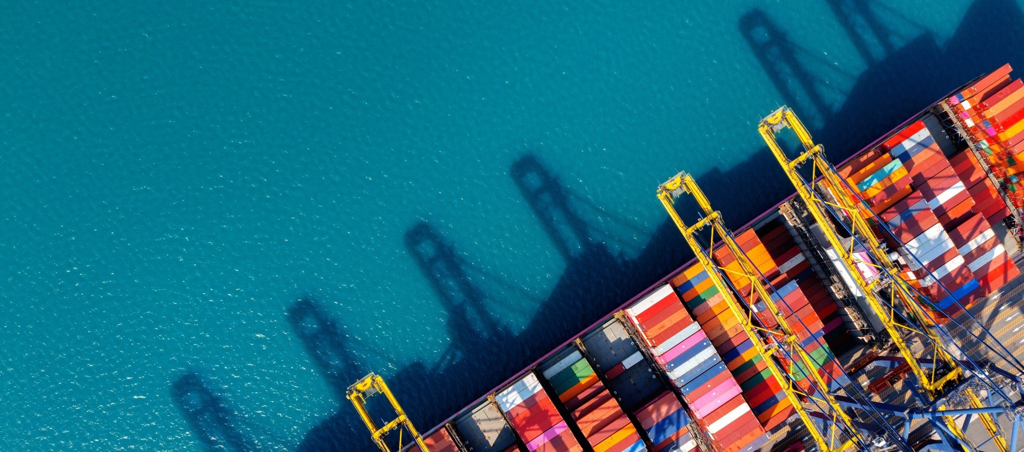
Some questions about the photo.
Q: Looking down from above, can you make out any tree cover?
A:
No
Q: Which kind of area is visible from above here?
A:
port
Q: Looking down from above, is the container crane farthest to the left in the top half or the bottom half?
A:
bottom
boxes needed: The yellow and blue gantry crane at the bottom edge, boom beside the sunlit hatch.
[338,367,435,452]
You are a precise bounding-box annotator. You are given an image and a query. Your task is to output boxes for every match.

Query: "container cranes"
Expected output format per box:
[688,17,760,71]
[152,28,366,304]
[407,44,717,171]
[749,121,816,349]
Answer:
[653,165,930,452]
[755,101,1024,452]
[338,367,435,452]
